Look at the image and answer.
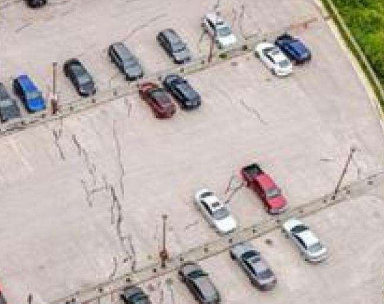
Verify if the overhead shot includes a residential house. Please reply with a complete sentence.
No, the photo shows no residential house.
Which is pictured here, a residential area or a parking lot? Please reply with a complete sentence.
This image shows a parking lot.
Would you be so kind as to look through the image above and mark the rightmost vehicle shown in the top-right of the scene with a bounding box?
[275,27,314,70]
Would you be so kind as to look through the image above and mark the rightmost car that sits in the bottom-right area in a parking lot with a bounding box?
[284,218,326,268]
